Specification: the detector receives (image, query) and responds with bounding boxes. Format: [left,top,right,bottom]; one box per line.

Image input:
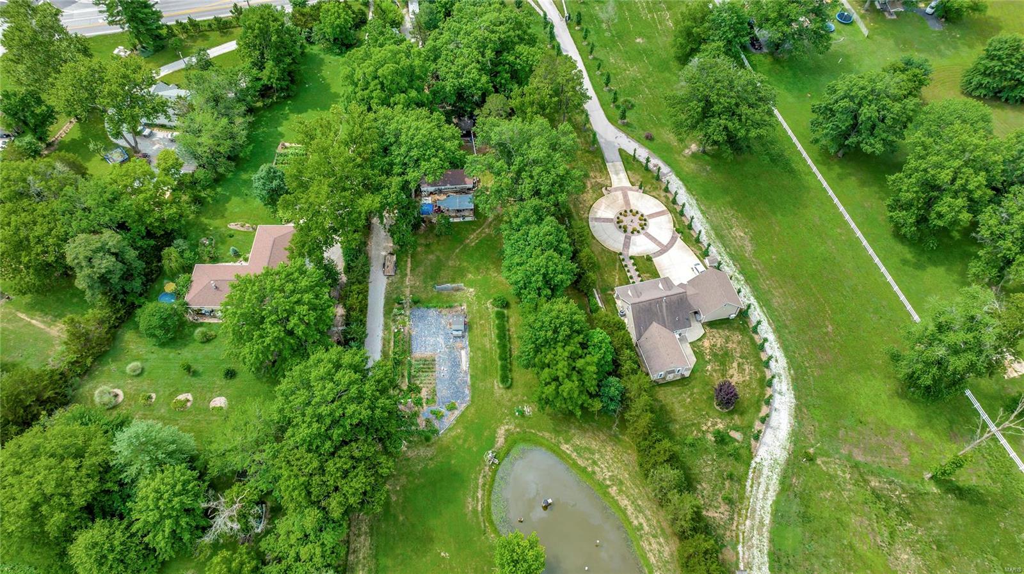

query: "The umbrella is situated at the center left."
[162,282,177,294]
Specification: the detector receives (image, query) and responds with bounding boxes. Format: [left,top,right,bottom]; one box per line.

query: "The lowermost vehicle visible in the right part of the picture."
[687,259,703,277]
